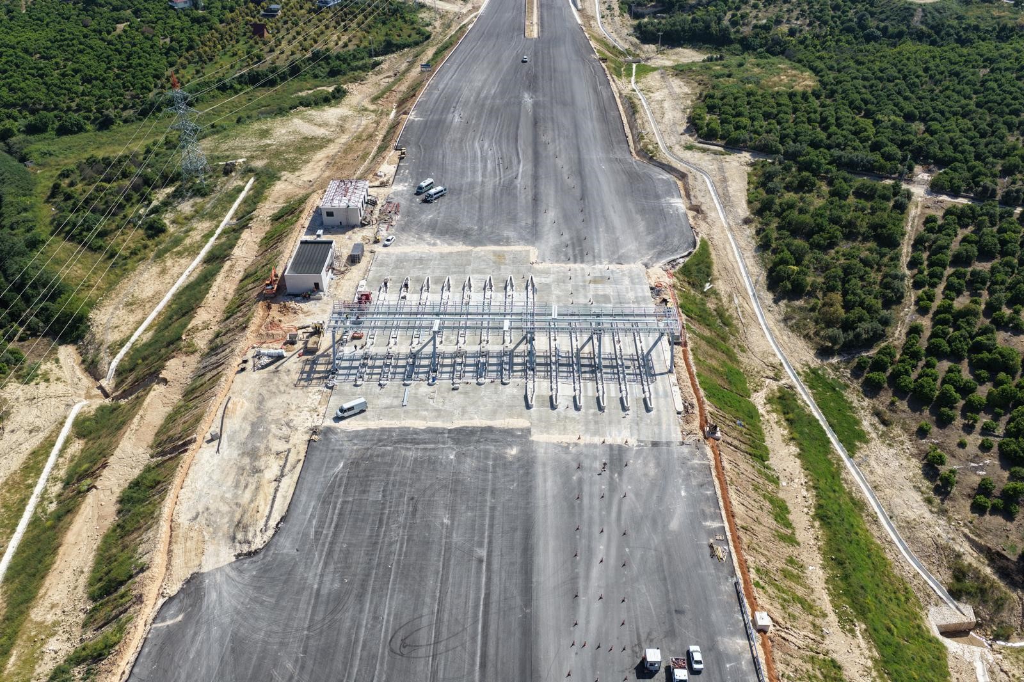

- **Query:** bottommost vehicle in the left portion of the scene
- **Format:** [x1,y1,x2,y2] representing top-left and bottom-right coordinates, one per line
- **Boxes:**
[336,394,368,417]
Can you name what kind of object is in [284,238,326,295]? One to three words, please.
building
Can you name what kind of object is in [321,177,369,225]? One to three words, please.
building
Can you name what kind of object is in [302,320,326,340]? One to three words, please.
work vehicle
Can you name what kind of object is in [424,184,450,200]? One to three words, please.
vehicle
